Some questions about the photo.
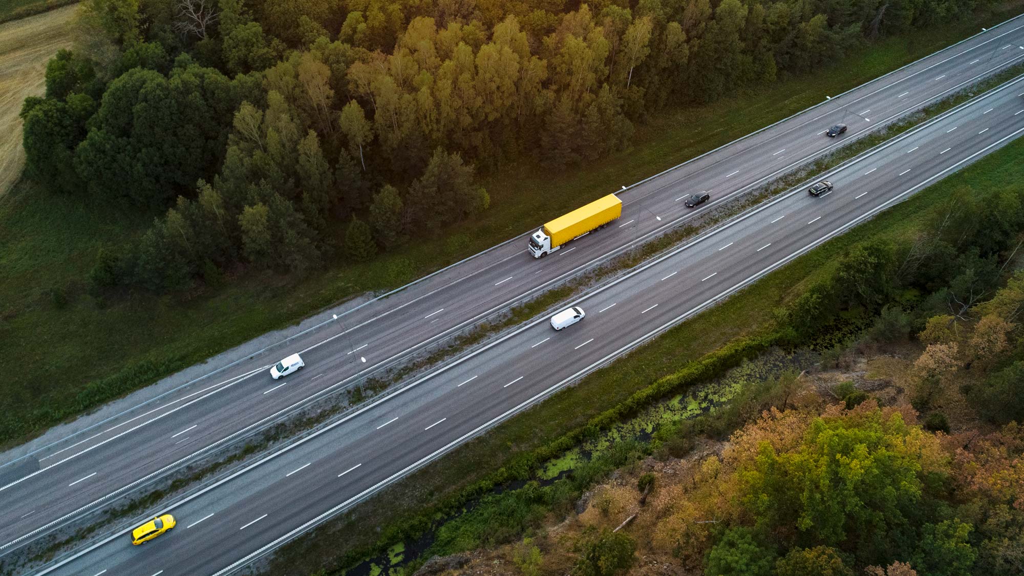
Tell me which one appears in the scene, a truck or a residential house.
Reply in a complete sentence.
It is a truck that can be seen here.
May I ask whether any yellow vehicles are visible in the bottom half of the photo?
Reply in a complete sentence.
Yes, I can see a yellow vehicle in the bottom half of the photo.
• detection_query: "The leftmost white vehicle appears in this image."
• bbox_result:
[272,353,306,379]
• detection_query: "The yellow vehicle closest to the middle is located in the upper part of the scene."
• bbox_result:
[528,194,622,257]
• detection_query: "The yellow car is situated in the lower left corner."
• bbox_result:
[130,513,176,545]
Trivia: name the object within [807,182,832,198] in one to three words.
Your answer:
car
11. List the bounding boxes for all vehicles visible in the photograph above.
[826,123,848,138]
[807,182,832,198]
[685,191,710,209]
[552,306,587,330]
[528,194,622,257]
[272,353,306,379]
[130,513,176,545]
